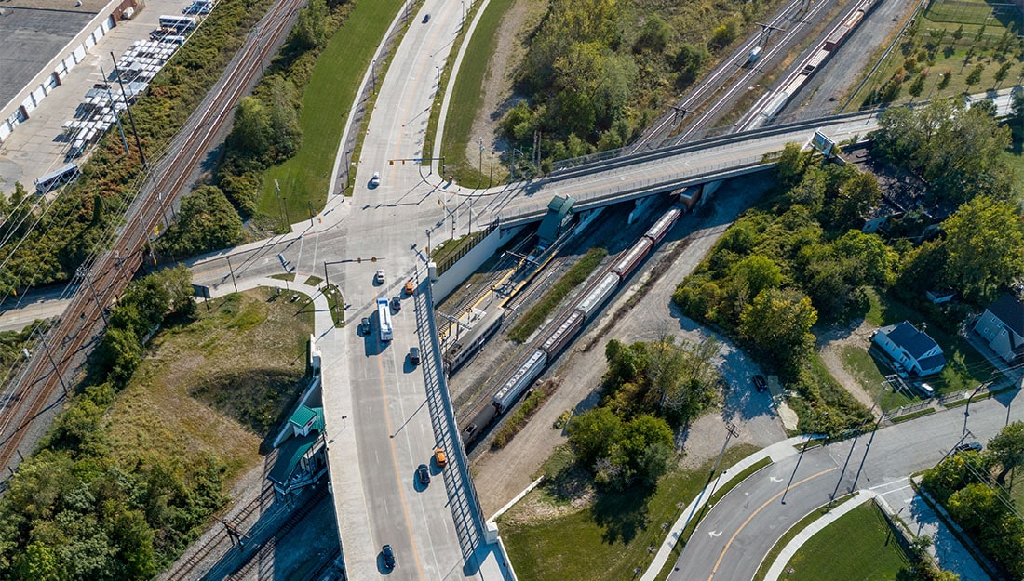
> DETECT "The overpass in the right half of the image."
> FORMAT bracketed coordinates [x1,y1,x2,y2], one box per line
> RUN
[471,109,858,228]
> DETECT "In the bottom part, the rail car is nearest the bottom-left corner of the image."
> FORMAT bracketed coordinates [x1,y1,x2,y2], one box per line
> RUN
[462,407,495,451]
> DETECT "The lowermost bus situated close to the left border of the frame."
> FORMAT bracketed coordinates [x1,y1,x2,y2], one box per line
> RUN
[29,161,80,191]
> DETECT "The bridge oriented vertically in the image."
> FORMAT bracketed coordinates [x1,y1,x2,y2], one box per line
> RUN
[310,269,510,581]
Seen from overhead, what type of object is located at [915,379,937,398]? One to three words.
vehicle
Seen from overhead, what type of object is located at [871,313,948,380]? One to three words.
house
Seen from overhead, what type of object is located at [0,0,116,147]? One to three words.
building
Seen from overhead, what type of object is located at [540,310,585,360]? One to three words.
rail car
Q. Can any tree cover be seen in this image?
Yes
